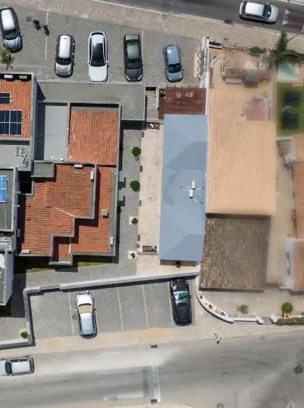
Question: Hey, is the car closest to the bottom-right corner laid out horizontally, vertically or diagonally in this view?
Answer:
vertically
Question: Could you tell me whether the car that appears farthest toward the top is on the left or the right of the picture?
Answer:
right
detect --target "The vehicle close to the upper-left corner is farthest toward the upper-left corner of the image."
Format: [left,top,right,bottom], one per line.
[0,7,22,52]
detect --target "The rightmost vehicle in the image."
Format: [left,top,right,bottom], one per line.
[238,1,278,24]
